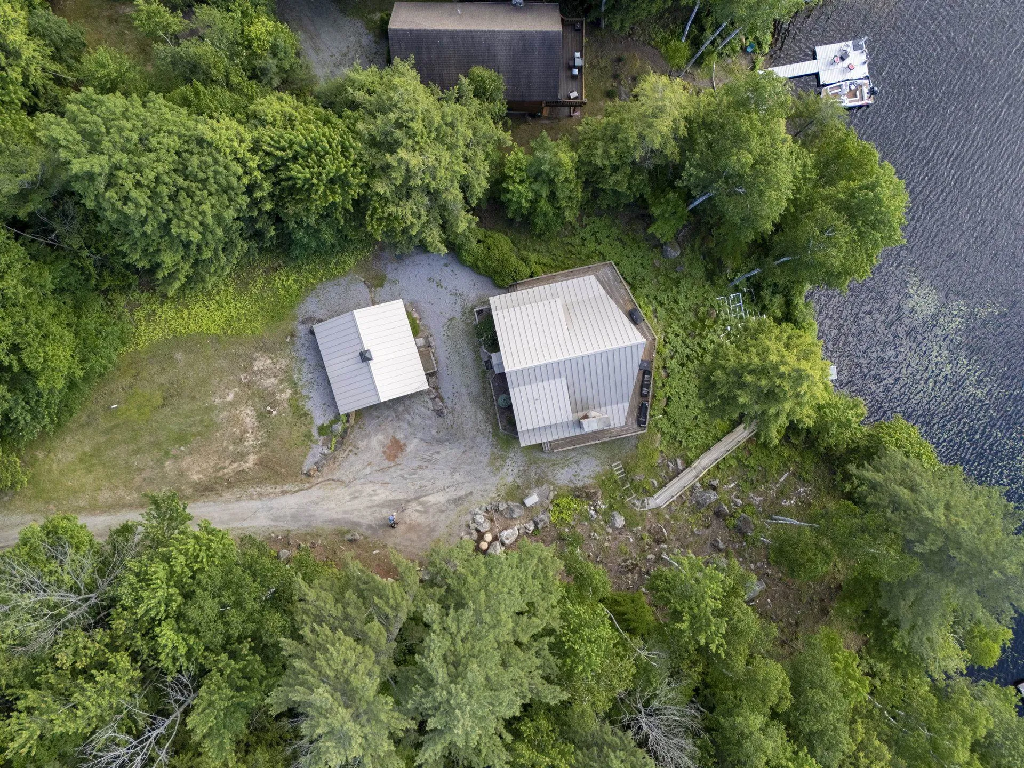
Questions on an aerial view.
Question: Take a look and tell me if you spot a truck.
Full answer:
No, no truck can be seen from above.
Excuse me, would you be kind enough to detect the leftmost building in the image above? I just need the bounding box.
[313,299,429,415]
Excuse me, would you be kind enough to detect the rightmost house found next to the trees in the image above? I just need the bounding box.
[489,261,657,451]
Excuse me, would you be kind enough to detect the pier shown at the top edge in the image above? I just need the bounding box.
[754,38,870,87]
